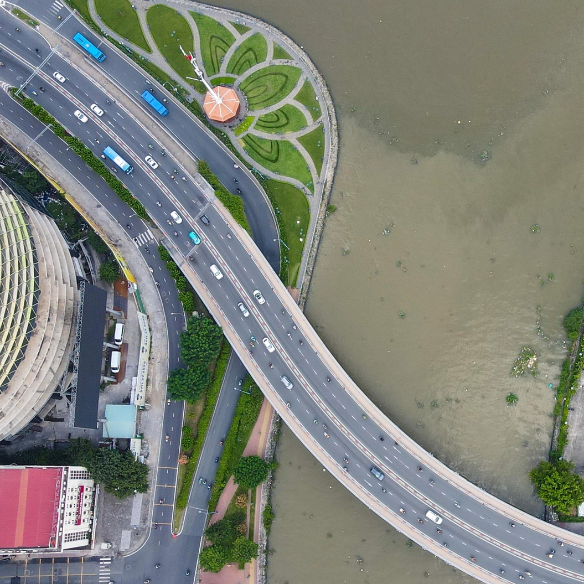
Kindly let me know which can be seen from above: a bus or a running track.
bus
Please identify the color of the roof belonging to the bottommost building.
red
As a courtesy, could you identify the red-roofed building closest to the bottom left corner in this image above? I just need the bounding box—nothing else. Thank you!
[0,455,97,553]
